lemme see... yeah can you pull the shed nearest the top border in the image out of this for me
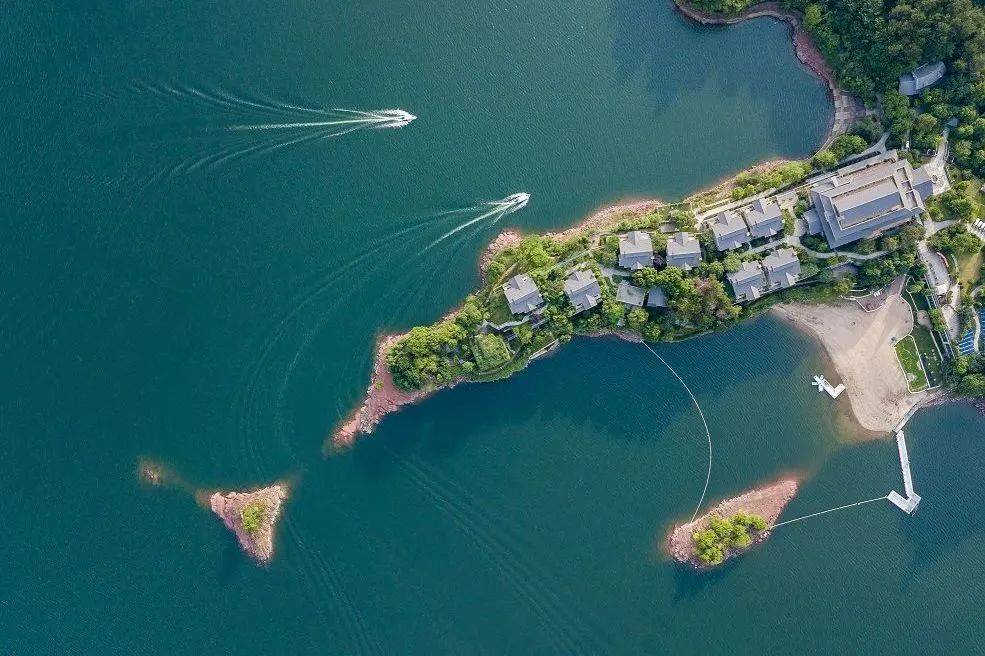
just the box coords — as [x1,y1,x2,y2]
[892,64,945,95]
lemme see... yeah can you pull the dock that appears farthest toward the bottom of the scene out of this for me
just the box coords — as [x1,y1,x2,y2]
[888,430,921,513]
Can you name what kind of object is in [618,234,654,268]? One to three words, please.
house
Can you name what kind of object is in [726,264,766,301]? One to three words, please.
house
